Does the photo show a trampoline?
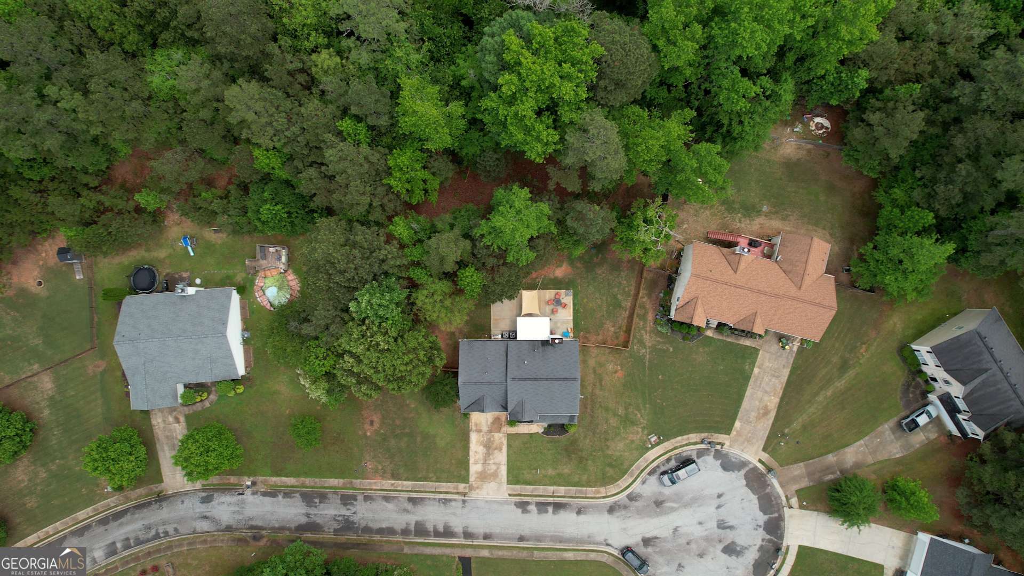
Yes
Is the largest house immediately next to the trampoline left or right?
left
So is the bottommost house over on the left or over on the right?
right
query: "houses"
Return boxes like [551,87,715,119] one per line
[458,316,583,424]
[671,232,837,344]
[904,533,1004,576]
[910,307,1024,444]
[117,286,245,409]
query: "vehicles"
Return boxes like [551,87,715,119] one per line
[620,543,649,576]
[656,456,704,488]
[895,400,941,436]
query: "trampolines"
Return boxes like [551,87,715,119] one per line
[125,264,161,295]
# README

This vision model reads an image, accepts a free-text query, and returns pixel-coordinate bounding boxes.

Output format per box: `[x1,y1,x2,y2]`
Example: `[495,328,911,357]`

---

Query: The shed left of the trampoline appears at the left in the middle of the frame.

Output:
[51,250,81,278]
